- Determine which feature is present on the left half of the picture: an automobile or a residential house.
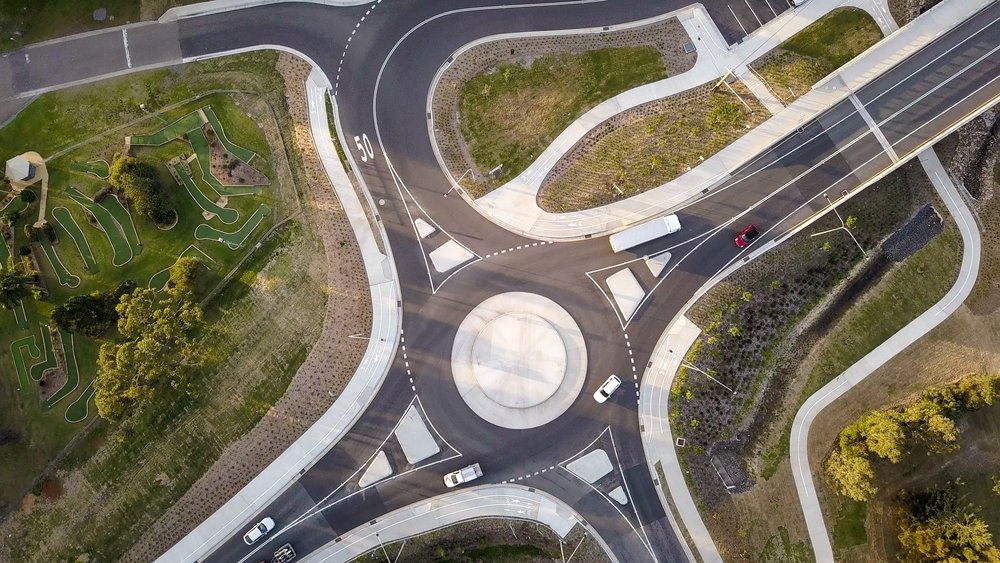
automobile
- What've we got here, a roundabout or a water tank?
roundabout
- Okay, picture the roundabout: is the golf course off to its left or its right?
on its left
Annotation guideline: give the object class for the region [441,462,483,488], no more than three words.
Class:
truck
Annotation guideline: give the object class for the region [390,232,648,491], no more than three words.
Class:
roundabout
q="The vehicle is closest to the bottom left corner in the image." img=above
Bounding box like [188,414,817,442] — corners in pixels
[240,517,274,548]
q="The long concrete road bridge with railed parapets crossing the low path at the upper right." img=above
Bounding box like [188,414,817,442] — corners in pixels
[751,0,1000,259]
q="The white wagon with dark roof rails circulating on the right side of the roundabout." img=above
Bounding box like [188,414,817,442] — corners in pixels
[593,374,624,406]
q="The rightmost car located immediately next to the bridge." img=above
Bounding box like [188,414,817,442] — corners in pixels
[734,221,764,248]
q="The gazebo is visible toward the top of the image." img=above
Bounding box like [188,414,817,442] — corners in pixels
[5,155,40,184]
